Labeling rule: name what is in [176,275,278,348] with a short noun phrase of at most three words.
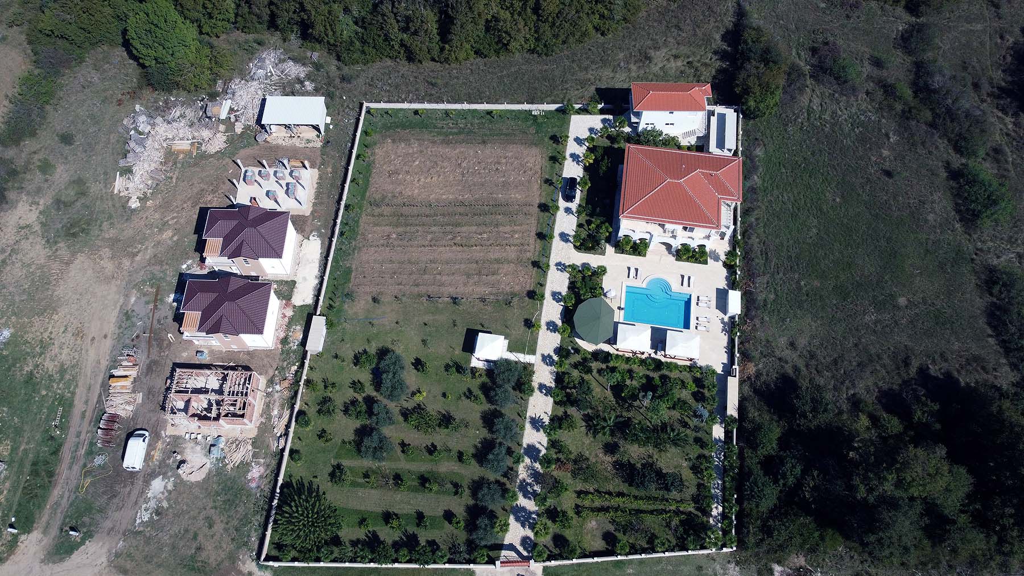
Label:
house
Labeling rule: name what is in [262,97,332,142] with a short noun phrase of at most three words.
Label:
shed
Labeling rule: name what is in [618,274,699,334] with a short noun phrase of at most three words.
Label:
swimming pool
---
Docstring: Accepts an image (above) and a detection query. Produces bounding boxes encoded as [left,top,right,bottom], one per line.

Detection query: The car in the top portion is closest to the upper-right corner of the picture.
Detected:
[565,177,578,203]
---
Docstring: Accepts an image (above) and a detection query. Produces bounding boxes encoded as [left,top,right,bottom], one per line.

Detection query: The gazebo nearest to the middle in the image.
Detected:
[471,331,512,370]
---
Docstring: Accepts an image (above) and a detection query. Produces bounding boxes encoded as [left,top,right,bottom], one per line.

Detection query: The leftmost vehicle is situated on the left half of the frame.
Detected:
[116,425,148,471]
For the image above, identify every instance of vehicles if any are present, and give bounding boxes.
[116,425,148,471]
[565,177,578,203]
